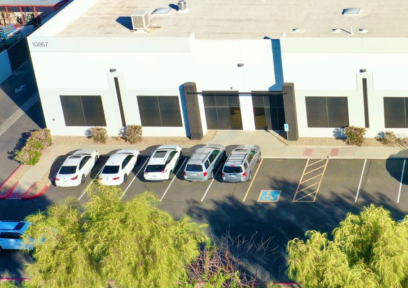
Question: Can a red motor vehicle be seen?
No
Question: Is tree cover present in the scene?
Yes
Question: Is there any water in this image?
No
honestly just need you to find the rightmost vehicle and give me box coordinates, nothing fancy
[214,141,257,181]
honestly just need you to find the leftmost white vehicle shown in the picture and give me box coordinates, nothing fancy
[53,144,105,184]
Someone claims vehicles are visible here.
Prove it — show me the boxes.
[214,141,257,181]
[0,212,53,253]
[175,140,220,181]
[53,144,105,184]
[135,140,182,180]
[93,145,143,184]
